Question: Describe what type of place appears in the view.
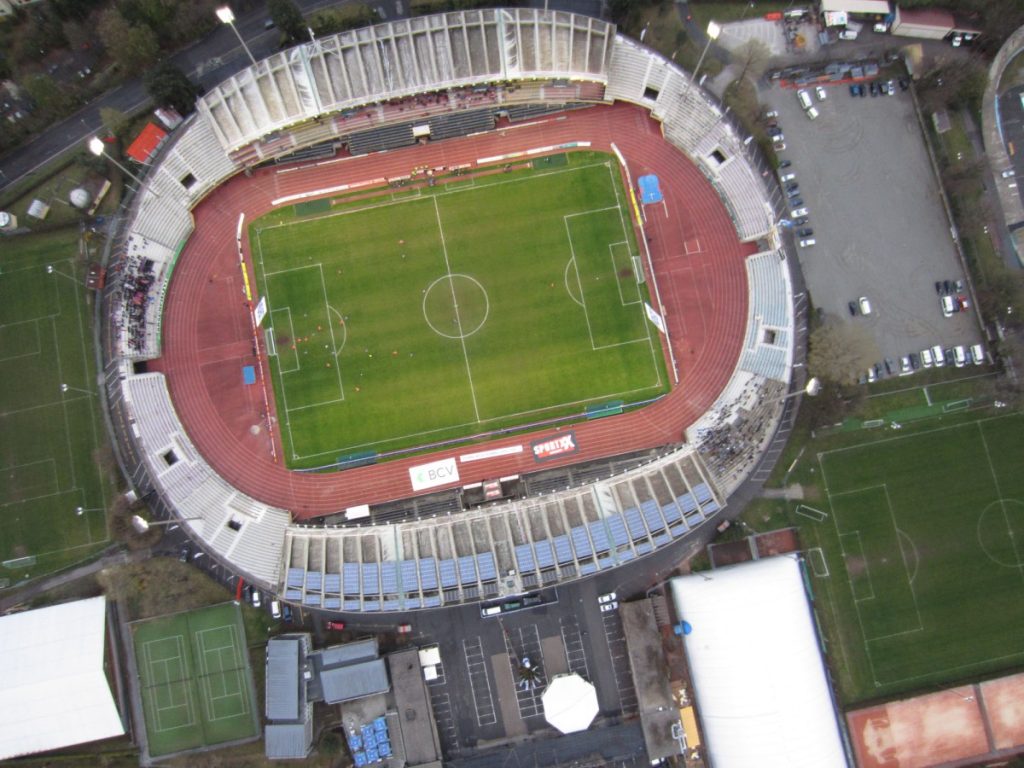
sports ground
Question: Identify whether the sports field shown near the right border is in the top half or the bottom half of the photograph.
bottom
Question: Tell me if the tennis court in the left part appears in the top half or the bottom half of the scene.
bottom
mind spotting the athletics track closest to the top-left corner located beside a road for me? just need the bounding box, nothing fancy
[159,100,748,524]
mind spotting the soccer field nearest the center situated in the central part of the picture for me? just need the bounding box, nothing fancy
[247,150,672,472]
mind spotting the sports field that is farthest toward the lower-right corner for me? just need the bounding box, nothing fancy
[795,407,1024,708]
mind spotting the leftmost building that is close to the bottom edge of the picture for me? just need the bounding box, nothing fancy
[0,596,129,758]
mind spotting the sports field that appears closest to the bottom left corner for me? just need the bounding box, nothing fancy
[0,239,120,590]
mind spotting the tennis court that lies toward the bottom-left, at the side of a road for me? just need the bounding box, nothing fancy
[131,601,260,757]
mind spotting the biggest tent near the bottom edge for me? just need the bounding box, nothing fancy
[540,668,600,734]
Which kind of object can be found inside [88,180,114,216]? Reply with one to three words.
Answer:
shed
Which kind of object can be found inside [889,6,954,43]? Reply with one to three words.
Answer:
building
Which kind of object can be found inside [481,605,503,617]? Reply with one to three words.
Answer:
vehicle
